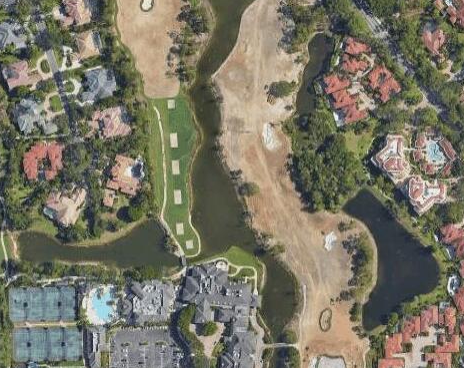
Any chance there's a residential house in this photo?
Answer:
Yes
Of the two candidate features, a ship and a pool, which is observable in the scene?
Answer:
pool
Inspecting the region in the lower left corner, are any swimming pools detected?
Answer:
Yes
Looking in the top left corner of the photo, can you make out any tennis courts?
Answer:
No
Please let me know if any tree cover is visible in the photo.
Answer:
Yes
